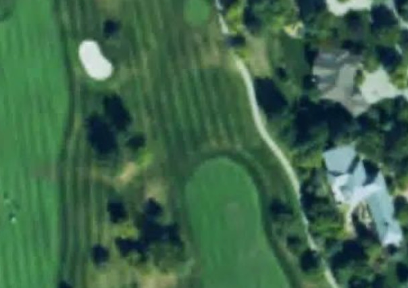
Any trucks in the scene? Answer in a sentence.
No, the photo shows no truck.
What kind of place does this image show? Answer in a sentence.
The area seen from above is a golf course.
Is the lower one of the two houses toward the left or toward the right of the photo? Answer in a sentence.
The lower one of the two houses is on the right side of the image.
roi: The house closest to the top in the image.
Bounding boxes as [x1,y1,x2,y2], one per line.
[311,44,373,120]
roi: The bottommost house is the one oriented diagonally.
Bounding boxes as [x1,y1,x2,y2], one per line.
[325,145,407,245]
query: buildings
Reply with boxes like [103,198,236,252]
[325,145,407,245]
[311,44,373,120]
